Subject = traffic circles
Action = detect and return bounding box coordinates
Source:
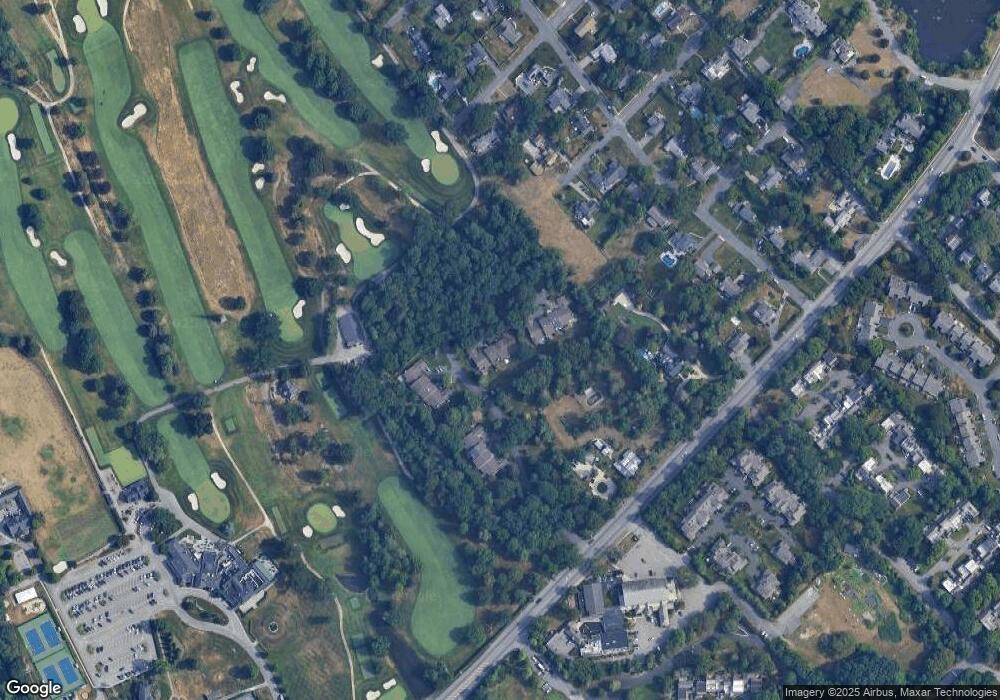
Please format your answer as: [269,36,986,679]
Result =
[888,312,924,348]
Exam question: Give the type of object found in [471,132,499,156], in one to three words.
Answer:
house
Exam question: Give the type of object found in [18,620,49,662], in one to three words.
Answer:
tennis court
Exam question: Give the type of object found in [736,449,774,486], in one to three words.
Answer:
building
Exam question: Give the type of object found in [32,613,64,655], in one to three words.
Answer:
tennis court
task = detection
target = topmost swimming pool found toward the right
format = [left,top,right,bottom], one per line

[796,40,813,57]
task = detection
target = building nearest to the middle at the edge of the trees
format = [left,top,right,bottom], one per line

[466,330,520,376]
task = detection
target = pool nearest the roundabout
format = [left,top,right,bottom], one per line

[880,154,900,180]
